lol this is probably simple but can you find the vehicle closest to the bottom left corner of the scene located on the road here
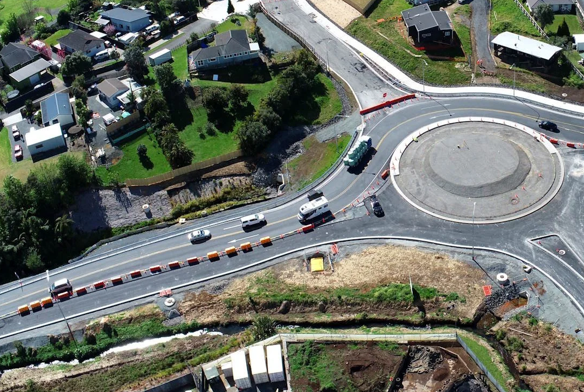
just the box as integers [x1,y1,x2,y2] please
[44,272,77,295]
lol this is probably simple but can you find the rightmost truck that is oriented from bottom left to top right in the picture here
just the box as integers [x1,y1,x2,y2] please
[339,128,374,168]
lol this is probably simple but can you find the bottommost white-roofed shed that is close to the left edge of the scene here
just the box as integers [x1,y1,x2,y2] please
[22,122,65,159]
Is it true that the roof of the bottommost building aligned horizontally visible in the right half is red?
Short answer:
No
